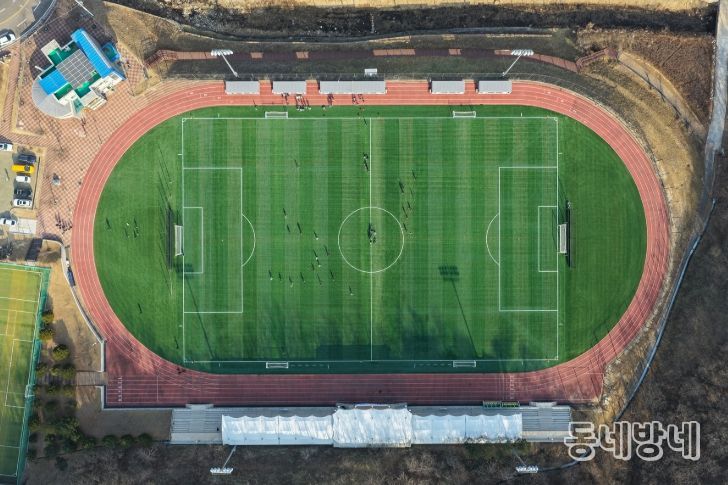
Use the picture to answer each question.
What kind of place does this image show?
sports ground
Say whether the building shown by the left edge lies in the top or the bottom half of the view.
top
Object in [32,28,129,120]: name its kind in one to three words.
building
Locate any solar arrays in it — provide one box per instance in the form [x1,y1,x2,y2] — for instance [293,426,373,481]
[55,50,97,89]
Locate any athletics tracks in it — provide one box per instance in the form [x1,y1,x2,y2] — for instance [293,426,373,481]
[70,75,670,408]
